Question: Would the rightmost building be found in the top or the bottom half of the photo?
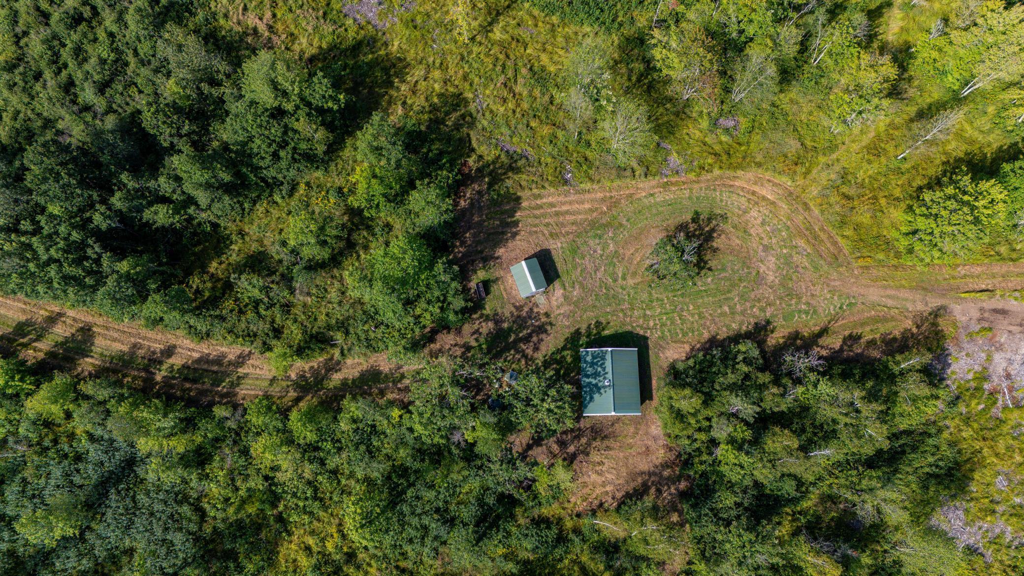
bottom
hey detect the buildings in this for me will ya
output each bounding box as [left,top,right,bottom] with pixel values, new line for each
[580,348,642,418]
[510,258,548,299]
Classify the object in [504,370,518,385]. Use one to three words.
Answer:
umbrella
